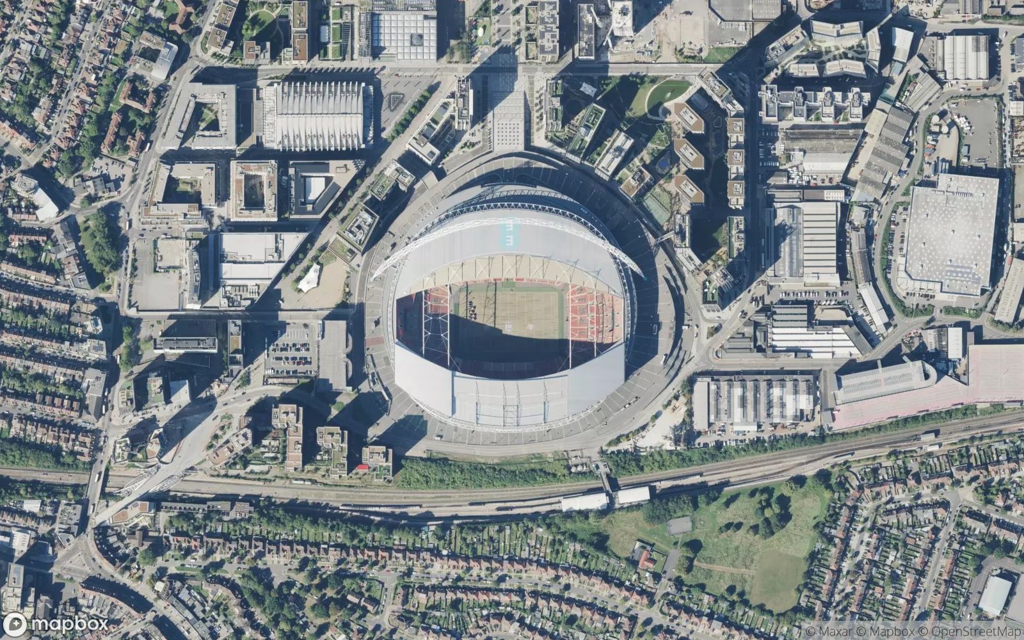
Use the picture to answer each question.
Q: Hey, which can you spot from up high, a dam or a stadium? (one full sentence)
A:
I can see a stadium in this picture.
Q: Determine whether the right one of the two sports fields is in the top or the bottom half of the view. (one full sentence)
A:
It is in the bottom half that the right one of the two sports fields appears.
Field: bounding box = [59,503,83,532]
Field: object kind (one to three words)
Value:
building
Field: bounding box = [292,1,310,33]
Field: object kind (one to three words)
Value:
building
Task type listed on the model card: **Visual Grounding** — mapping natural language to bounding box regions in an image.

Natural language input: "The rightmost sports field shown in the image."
[750,549,807,612]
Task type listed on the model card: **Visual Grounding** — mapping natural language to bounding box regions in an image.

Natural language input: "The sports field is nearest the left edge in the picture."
[454,282,563,365]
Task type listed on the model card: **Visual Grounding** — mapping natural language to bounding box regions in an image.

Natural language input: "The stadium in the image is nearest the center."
[370,184,647,433]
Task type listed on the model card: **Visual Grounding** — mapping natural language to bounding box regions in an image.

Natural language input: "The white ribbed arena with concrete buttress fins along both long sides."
[264,80,374,152]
